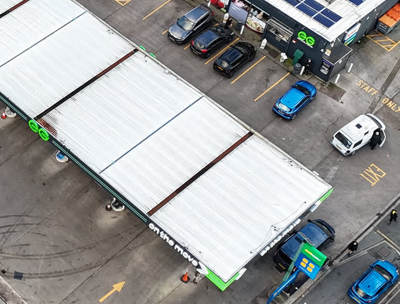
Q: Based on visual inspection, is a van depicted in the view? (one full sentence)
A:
Yes, the picture does show a van.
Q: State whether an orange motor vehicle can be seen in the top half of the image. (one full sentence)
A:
No, I can find no orange motor vehicle in the top half of the image.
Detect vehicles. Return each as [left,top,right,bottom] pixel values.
[272,83,316,120]
[192,26,234,58]
[331,112,391,158]
[272,220,331,271]
[348,260,399,304]
[169,3,212,42]
[213,42,257,77]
